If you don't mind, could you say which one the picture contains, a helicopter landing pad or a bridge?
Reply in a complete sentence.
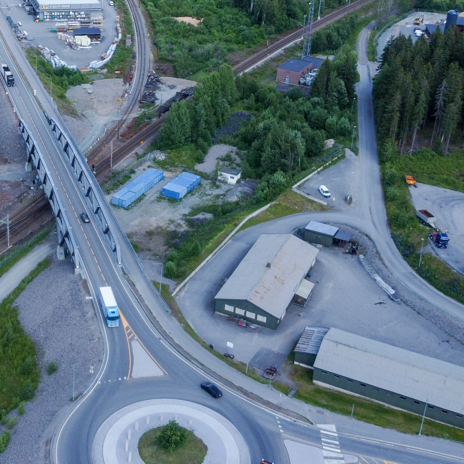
The image shows a bridge.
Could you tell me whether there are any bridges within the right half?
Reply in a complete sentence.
No, there is no bridge within the right half.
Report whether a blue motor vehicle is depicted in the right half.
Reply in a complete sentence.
Yes, a blue motor vehicle can be seen in the right half.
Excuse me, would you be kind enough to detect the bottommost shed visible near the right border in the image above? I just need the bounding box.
[310,326,464,422]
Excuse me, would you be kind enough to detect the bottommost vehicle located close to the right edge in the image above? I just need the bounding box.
[429,230,450,246]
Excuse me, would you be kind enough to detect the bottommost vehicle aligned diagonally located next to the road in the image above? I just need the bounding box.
[200,378,225,396]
